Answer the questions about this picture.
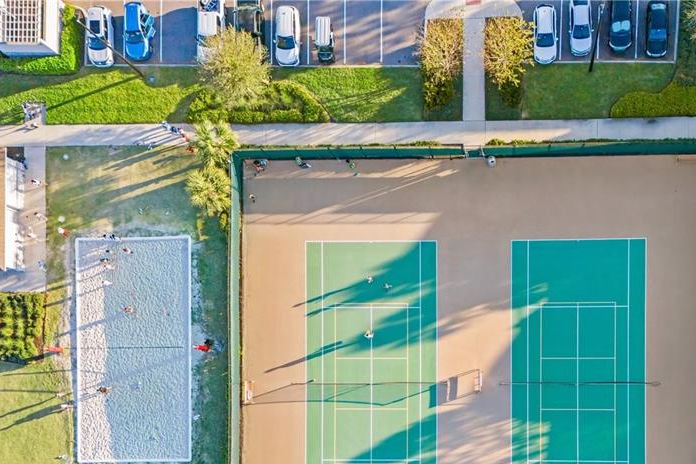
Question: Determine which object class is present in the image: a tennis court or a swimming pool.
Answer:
tennis court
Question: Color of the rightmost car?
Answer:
blue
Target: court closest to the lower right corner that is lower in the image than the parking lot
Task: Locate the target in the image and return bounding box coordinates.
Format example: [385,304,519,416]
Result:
[511,238,646,464]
